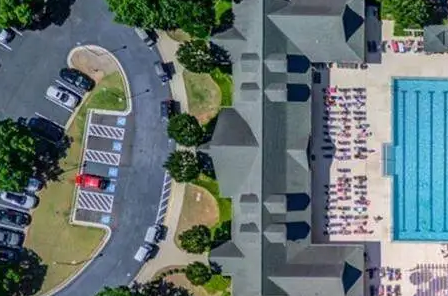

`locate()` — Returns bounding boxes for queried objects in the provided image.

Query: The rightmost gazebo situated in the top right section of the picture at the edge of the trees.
[424,26,448,56]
